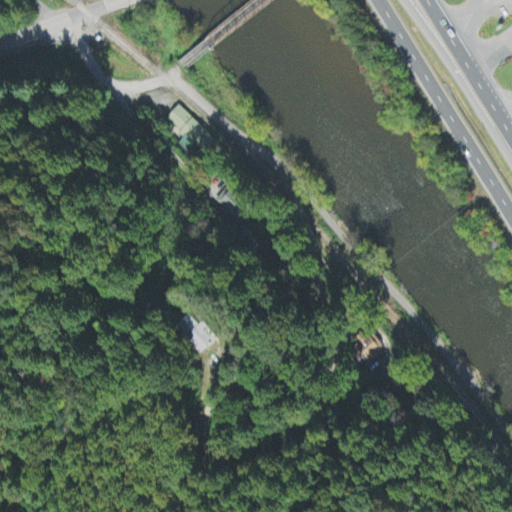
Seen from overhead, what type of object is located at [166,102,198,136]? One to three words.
house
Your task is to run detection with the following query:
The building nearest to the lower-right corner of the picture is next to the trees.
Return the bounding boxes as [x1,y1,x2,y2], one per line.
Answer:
[352,330,383,358]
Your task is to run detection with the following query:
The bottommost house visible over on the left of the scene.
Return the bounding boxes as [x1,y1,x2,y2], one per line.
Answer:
[182,322,218,354]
